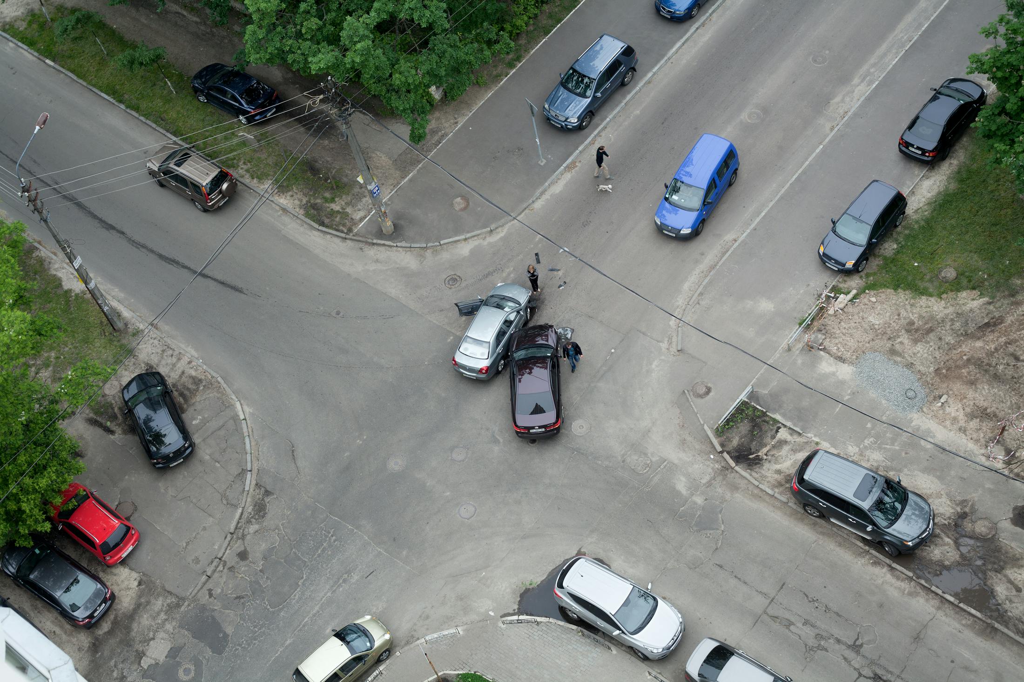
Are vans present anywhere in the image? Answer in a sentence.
Yes, the image includes a van.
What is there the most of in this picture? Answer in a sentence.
The largest share of the image is taken up by paved ground.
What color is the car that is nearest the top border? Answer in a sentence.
The color of the car that is nearest the top border is blue.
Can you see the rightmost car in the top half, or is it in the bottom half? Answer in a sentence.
The rightmost car sits in the top half of the picture.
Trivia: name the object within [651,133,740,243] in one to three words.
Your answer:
van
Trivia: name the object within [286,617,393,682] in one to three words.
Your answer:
car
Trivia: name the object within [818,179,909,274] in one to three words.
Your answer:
car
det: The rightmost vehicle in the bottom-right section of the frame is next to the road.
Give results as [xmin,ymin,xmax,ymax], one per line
[787,446,938,558]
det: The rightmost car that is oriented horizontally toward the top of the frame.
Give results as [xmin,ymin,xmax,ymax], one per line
[659,0,711,21]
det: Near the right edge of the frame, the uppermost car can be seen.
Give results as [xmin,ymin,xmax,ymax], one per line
[897,73,988,164]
